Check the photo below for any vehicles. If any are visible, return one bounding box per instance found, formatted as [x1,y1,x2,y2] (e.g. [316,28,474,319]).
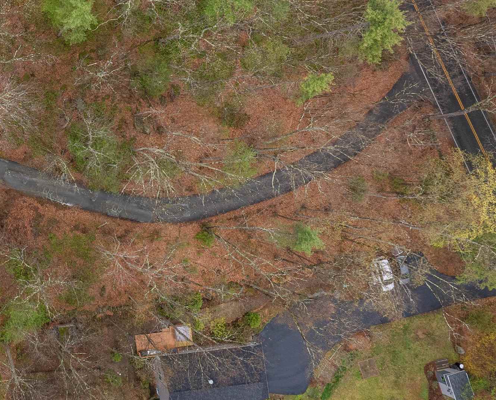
[392,255,410,284]
[370,256,393,290]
